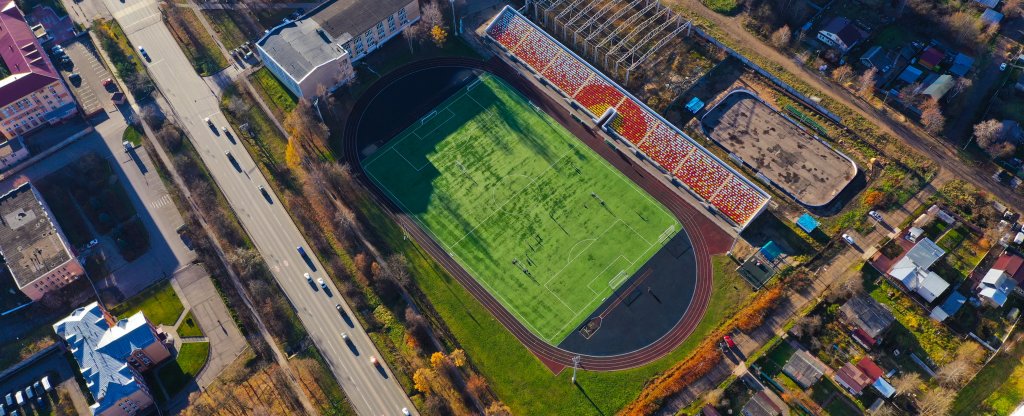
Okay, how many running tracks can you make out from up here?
1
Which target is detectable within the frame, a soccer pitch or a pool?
soccer pitch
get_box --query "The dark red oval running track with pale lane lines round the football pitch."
[344,50,734,376]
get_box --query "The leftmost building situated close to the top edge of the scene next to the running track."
[255,0,425,98]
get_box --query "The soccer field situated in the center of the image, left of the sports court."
[362,71,682,344]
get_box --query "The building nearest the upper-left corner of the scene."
[0,0,78,135]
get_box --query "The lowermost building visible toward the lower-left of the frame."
[53,299,181,416]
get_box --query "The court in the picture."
[699,83,860,207]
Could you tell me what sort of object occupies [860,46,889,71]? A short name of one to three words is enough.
house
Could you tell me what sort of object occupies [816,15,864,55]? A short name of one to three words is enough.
house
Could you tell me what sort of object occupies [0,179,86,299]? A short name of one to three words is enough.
building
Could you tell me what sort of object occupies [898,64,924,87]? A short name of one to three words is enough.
shed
